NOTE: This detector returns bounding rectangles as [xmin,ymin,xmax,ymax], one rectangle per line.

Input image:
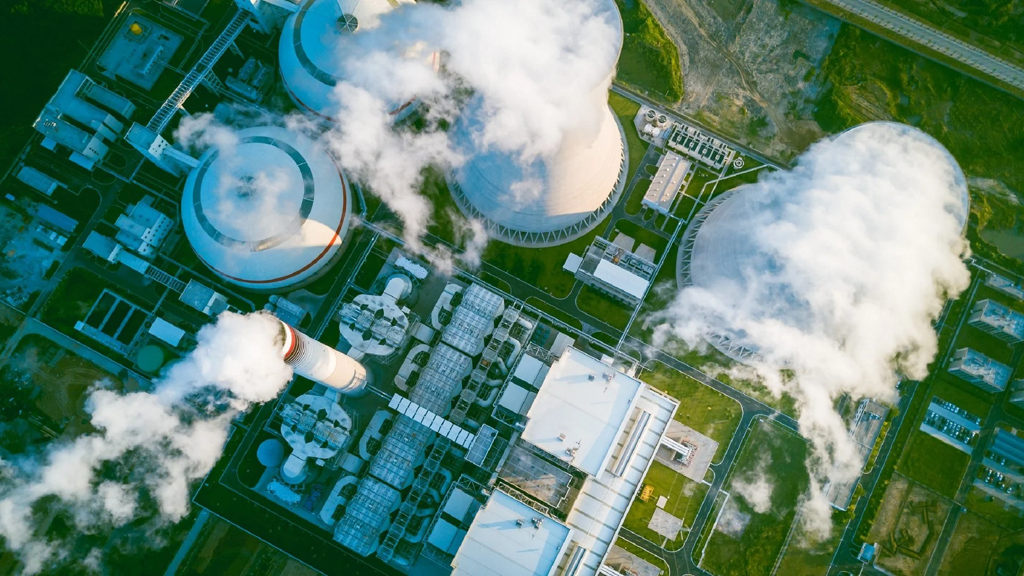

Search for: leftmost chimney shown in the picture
[243,315,378,404]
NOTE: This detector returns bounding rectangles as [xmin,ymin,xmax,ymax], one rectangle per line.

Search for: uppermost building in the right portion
[640,151,692,218]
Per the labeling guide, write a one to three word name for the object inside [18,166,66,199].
shed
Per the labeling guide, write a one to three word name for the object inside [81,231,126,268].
house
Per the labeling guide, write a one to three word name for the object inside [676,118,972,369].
cooling tower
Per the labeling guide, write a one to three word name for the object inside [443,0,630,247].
cooling tower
